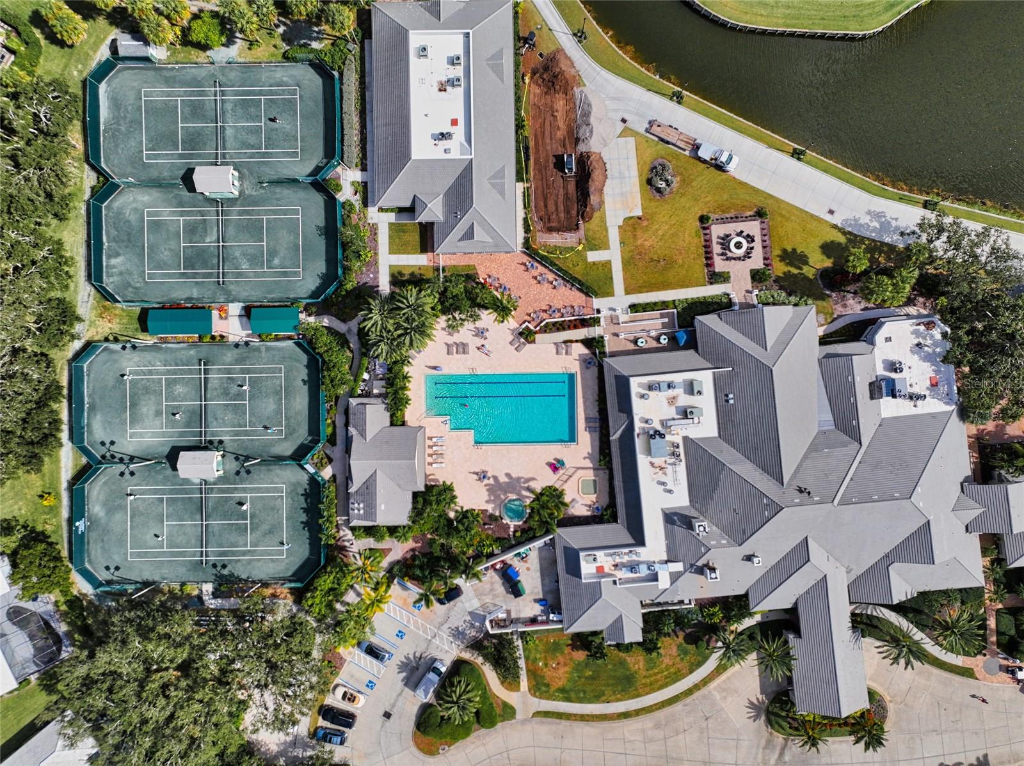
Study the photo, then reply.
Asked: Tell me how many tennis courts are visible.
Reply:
4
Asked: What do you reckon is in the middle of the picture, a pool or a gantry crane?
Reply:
pool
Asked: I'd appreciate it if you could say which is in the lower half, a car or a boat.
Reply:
car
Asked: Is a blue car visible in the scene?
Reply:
Yes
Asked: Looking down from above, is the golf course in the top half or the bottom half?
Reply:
top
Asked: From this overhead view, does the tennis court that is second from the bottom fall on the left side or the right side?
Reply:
left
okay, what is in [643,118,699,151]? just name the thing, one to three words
trailer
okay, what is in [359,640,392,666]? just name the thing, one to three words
car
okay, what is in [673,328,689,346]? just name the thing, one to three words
umbrella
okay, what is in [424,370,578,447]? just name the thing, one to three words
swimming pool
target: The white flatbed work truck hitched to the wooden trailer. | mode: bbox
[696,139,741,169]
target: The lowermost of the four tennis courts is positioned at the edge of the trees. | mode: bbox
[87,463,321,585]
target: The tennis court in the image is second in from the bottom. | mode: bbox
[85,342,320,463]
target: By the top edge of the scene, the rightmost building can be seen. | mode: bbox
[371,0,517,255]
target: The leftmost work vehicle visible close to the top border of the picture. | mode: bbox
[522,28,536,59]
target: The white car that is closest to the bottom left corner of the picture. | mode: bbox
[334,685,366,709]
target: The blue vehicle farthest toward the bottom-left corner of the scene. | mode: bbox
[315,725,347,747]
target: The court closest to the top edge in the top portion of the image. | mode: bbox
[101,64,335,183]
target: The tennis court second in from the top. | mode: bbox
[103,182,336,302]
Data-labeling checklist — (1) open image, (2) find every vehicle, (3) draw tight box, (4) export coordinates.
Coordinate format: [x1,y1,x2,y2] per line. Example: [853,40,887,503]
[322,705,356,729]
[334,685,366,709]
[522,28,536,59]
[315,725,347,747]
[562,154,576,179]
[1010,668,1024,681]
[696,139,741,169]
[436,582,465,607]
[413,660,445,701]
[359,640,392,666]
